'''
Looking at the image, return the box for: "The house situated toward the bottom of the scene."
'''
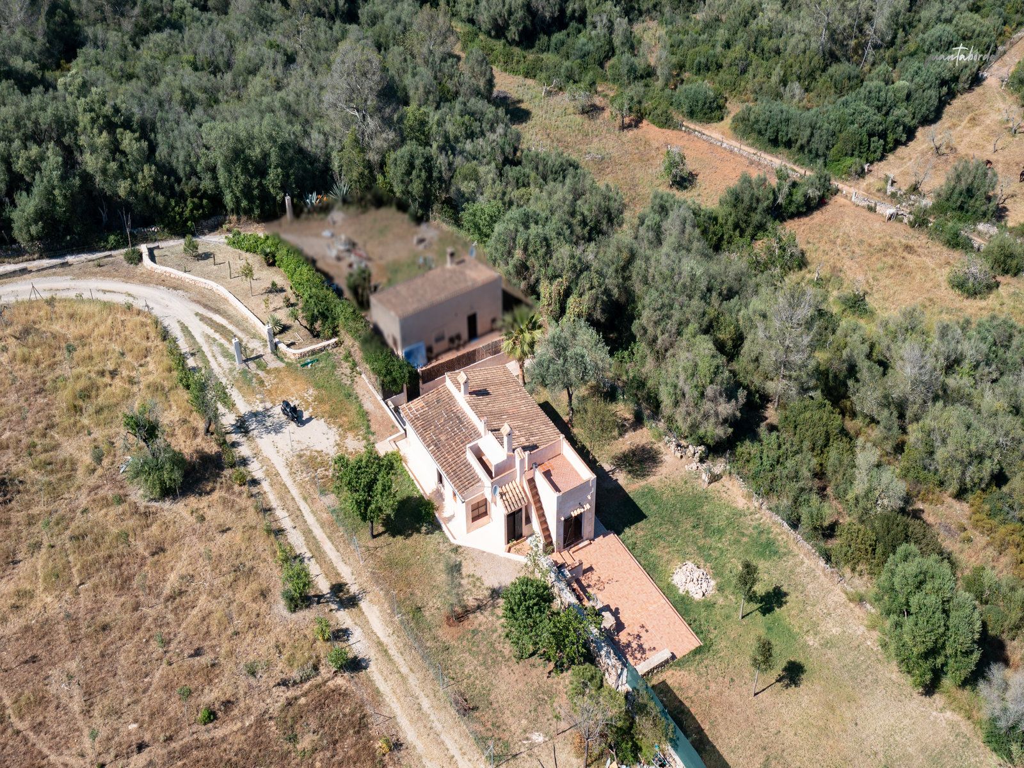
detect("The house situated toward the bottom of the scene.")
[370,363,612,562]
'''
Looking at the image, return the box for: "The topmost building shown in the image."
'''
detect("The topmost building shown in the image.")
[378,249,506,360]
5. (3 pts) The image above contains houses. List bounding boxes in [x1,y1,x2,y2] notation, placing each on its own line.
[370,363,612,562]
[378,249,506,360]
